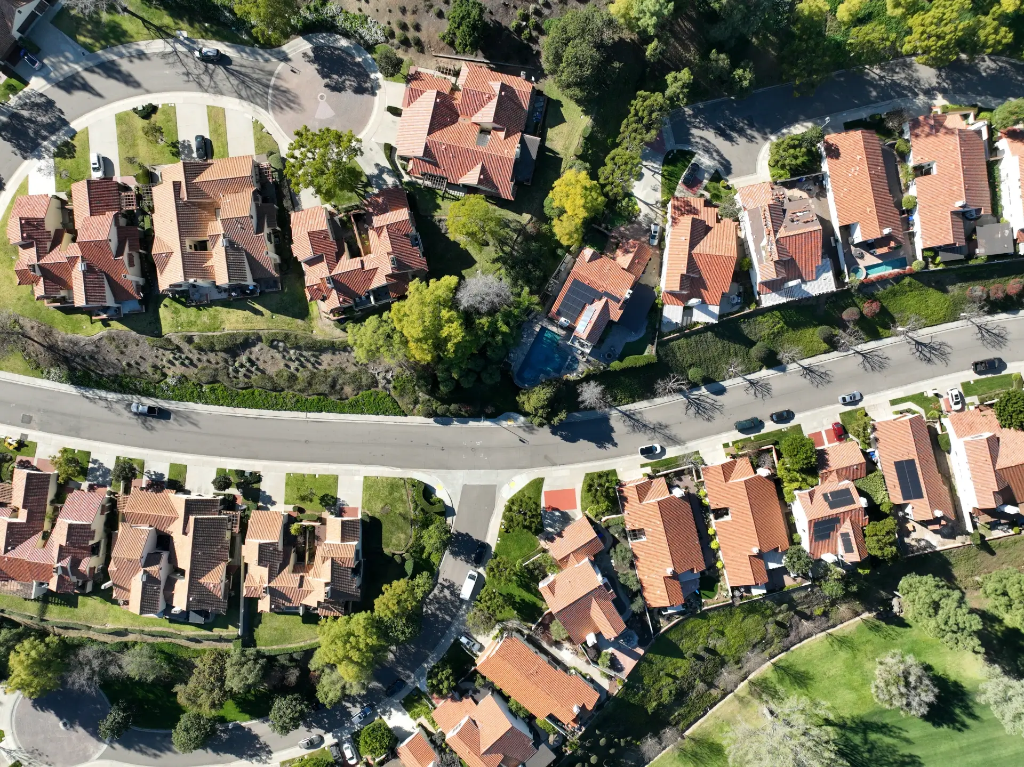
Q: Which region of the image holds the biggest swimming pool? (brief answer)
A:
center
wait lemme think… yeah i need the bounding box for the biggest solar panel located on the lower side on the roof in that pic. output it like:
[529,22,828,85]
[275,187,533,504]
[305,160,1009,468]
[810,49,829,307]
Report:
[894,460,924,501]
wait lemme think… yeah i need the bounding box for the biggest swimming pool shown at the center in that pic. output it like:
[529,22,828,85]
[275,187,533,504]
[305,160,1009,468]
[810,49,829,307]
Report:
[517,325,570,386]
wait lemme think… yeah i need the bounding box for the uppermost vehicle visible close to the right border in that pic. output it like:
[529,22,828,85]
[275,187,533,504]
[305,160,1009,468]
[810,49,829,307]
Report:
[971,358,1001,371]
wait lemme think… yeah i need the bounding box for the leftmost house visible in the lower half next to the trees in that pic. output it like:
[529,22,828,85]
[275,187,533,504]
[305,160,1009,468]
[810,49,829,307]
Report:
[0,468,116,598]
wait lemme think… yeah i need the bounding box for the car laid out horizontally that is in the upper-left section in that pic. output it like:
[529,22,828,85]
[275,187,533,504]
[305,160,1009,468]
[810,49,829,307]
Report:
[196,48,220,61]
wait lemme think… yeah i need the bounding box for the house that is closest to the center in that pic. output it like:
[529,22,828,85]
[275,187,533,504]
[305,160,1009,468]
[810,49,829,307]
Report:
[549,240,652,354]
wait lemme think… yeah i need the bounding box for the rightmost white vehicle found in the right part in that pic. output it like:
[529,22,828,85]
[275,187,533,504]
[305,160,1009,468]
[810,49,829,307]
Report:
[947,387,962,411]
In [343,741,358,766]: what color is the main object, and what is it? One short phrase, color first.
white car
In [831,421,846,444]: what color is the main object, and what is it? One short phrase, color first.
red car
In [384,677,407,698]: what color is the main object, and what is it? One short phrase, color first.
black car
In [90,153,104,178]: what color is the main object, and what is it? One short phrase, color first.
white car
